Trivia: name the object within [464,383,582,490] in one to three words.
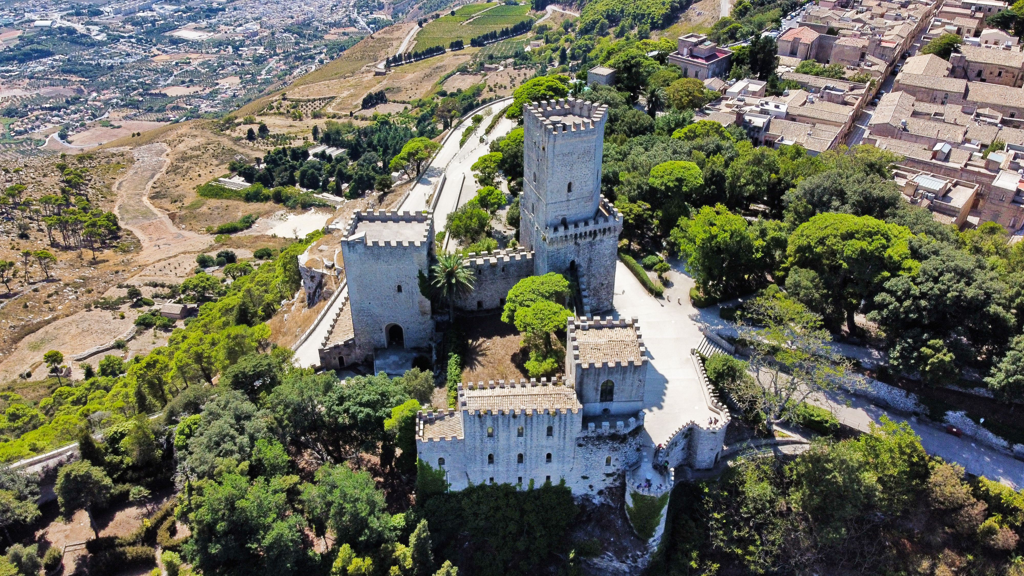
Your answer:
house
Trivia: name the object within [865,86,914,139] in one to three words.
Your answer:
house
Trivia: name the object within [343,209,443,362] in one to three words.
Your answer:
building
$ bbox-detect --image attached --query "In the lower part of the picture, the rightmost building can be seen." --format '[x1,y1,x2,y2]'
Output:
[694,405,732,458]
